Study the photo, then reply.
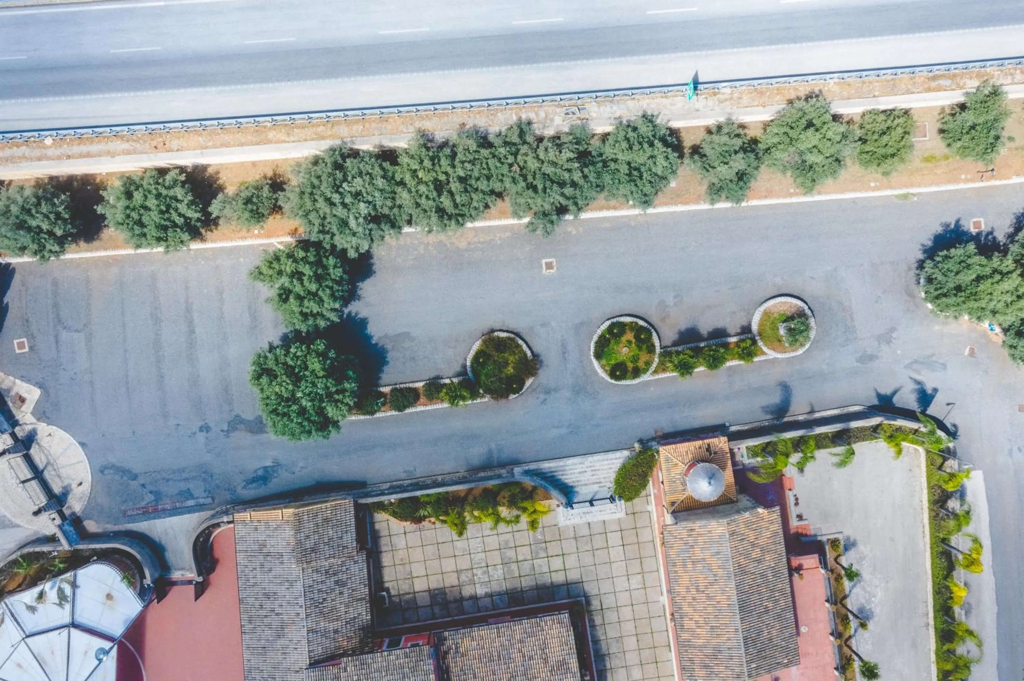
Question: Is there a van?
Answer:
No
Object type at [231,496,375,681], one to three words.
house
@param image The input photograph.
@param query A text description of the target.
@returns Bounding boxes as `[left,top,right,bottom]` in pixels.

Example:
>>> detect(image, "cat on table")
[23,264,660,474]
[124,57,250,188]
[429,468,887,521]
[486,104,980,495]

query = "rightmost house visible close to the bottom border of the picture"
[660,487,804,681]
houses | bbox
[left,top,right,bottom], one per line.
[432,602,579,681]
[660,487,804,681]
[231,496,375,681]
